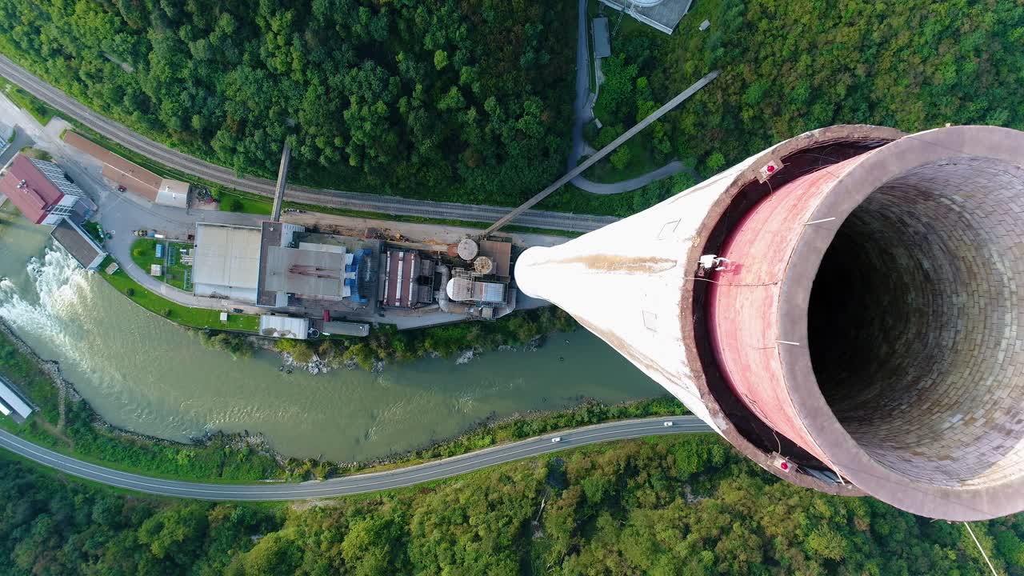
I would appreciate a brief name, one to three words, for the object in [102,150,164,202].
shed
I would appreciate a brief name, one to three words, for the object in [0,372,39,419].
building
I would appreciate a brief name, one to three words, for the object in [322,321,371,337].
building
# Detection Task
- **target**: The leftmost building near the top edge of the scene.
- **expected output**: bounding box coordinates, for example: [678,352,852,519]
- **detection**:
[592,17,611,60]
